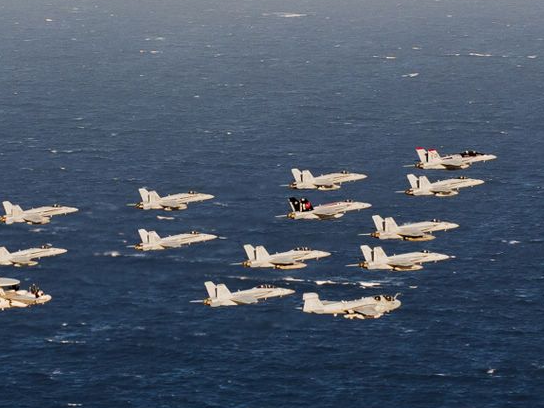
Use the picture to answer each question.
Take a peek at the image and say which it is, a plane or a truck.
plane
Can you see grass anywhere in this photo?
No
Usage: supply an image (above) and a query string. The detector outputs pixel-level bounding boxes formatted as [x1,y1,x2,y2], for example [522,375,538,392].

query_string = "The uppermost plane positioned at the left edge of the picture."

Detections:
[0,201,78,223]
